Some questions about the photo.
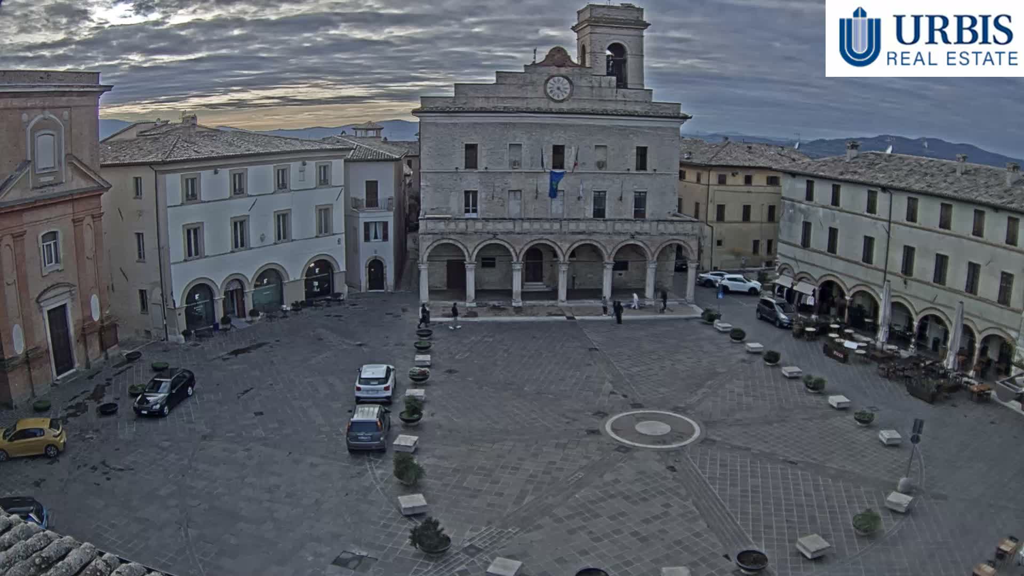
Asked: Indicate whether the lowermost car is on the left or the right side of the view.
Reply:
left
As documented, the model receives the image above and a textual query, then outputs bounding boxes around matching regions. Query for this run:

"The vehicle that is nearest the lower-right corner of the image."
[755,294,805,327]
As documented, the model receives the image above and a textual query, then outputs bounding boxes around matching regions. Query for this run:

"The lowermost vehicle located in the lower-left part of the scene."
[0,485,44,527]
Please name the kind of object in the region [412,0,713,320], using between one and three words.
building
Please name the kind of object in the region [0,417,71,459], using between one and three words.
car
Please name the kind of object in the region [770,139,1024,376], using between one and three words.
building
